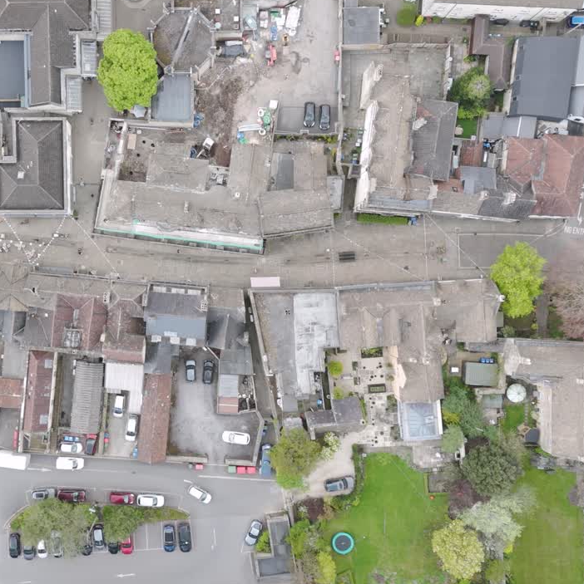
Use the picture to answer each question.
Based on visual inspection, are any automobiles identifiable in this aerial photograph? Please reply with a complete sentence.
Yes, the picture does show an automobile.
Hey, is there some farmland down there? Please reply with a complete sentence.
No, no farmland is visible.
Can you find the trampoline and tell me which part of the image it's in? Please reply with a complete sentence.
The trampoline is located in the bottom region of the scene.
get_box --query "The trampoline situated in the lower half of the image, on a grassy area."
[331,532,353,555]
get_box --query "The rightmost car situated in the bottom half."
[324,476,353,493]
